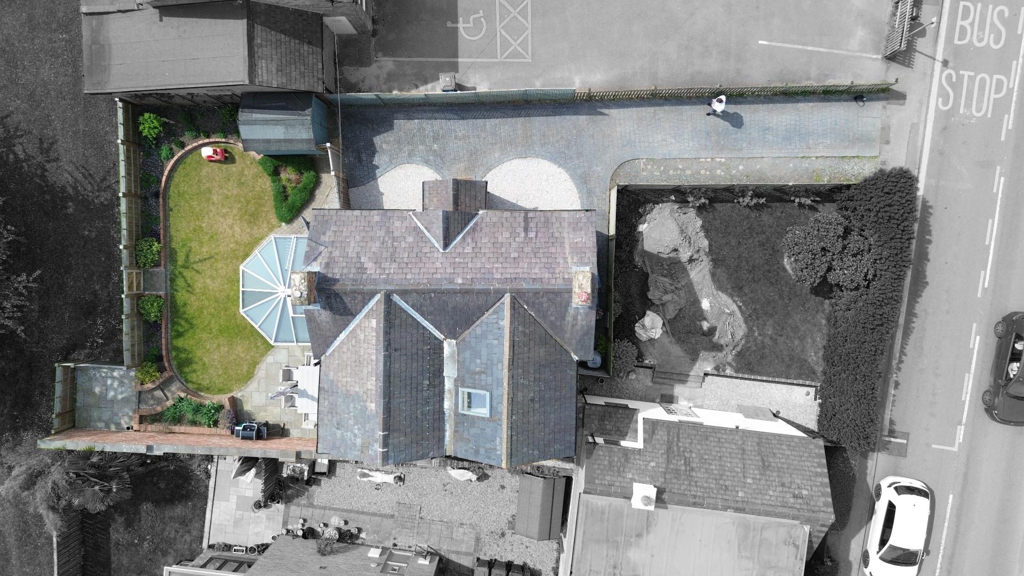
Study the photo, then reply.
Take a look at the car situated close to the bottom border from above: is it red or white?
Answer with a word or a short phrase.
white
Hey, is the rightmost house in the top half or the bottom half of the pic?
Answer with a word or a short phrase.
bottom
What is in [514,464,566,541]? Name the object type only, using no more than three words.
shed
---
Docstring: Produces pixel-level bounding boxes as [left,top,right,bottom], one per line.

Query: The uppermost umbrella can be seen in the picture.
[269,383,301,398]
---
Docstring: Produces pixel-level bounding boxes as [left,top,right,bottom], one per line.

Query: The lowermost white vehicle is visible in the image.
[862,475,934,576]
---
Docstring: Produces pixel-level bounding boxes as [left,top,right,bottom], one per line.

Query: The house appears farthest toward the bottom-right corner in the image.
[555,392,834,576]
